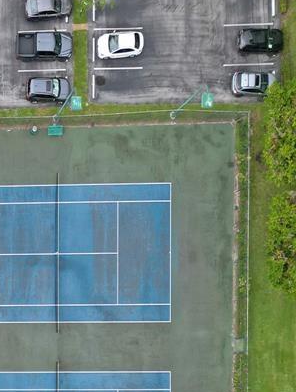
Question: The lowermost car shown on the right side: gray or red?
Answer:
gray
